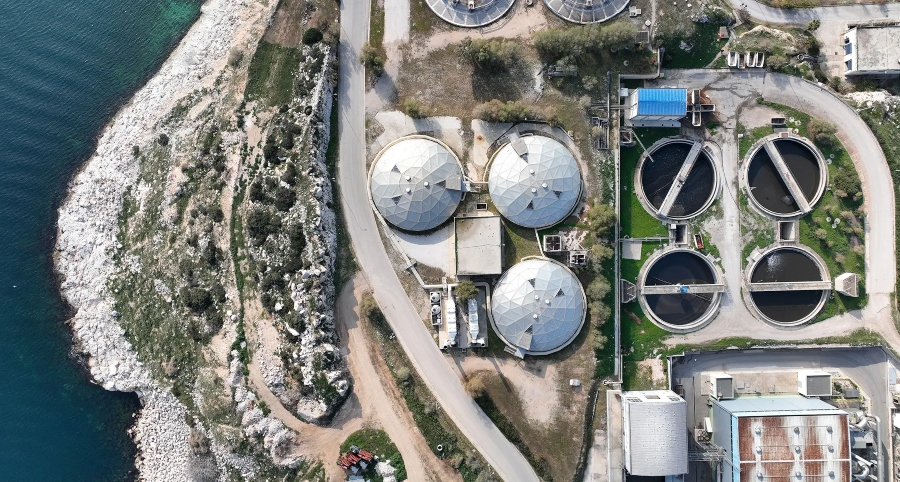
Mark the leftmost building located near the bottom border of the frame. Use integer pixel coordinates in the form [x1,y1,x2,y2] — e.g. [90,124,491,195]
[621,392,690,482]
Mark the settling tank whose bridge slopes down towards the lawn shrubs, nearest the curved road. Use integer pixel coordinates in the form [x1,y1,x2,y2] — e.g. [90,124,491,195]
[740,134,828,221]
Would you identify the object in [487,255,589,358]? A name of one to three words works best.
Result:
storage tank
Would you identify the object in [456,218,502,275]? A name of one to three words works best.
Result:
building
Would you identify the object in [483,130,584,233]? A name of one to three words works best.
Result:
storage tank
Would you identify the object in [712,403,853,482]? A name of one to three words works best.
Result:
building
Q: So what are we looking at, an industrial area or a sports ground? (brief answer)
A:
industrial area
